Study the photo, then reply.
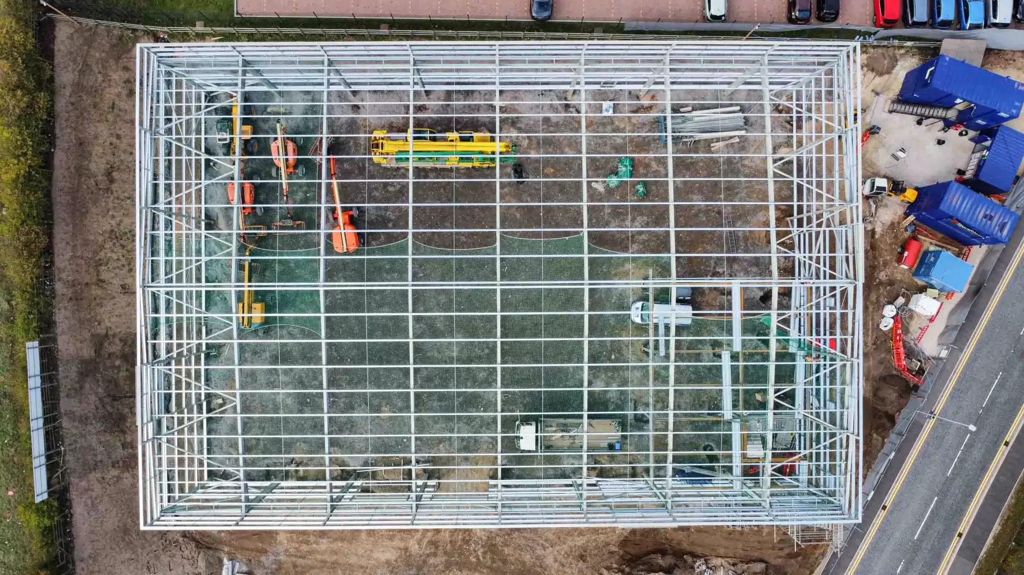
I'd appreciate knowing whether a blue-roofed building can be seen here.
Yes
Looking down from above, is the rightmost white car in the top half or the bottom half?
top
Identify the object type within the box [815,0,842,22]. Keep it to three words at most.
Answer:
car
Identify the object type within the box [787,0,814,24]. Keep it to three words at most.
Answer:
car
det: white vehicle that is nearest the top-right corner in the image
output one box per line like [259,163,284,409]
[986,0,1017,27]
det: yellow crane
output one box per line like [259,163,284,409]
[369,128,519,169]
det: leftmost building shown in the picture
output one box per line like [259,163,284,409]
[135,41,865,530]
